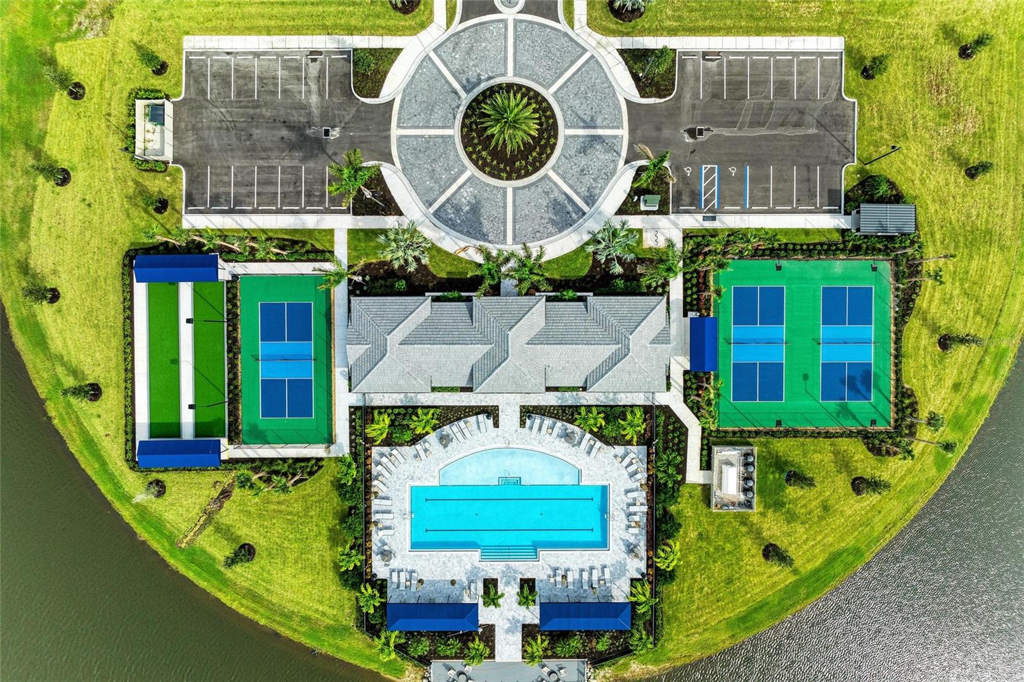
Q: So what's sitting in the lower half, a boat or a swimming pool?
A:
swimming pool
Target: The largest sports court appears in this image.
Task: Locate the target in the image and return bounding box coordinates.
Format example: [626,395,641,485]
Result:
[713,260,892,427]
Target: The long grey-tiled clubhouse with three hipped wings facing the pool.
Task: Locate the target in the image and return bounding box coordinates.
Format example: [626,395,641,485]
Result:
[344,295,673,394]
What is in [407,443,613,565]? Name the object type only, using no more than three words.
swimming pool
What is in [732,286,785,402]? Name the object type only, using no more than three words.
sports court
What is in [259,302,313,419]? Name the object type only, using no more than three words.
sports court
